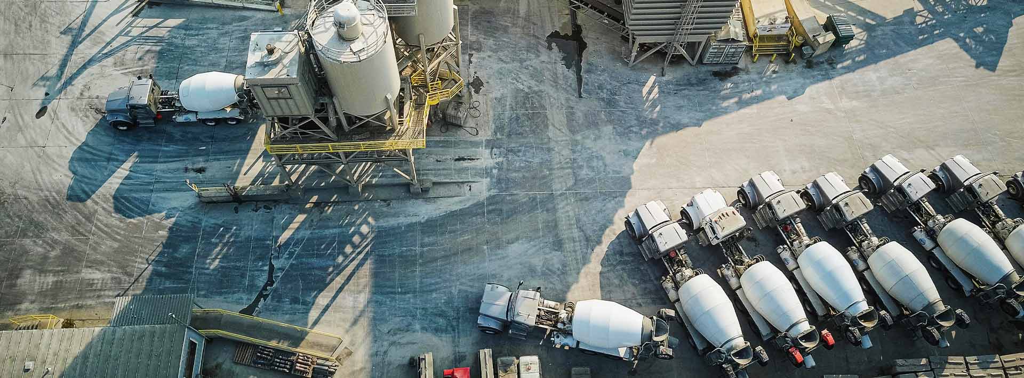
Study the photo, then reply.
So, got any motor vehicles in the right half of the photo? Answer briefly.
Yes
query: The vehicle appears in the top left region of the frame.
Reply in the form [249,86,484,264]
[103,71,261,132]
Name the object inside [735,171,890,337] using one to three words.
truck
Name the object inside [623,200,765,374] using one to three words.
truck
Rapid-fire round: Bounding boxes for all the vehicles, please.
[798,172,964,337]
[473,279,672,357]
[926,154,1024,274]
[444,368,473,378]
[103,71,261,132]
[855,154,1024,312]
[735,171,890,337]
[498,358,517,378]
[623,200,765,374]
[679,190,831,360]
[520,356,539,378]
